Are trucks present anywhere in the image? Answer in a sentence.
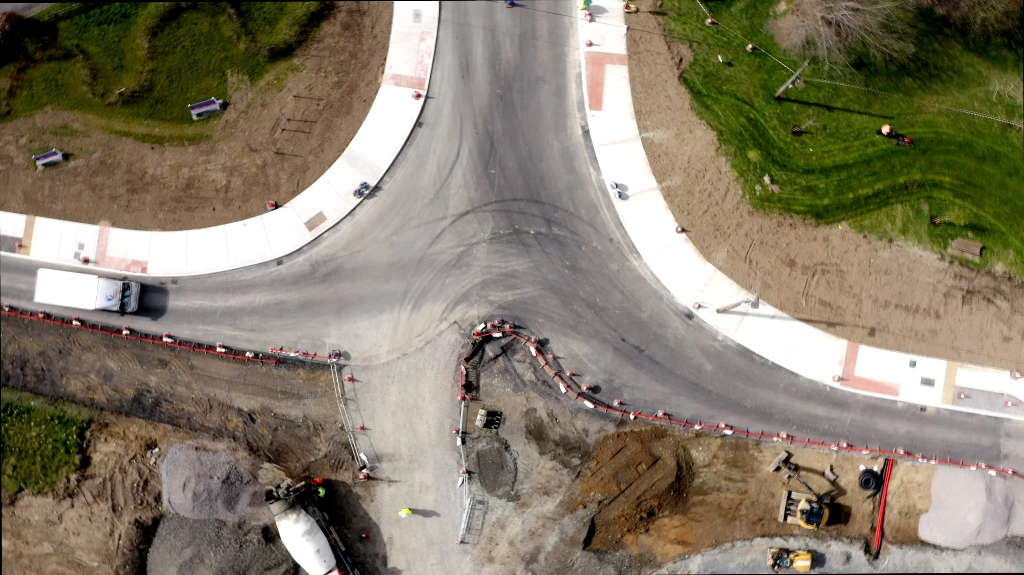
Yes, a truck can be made out from above.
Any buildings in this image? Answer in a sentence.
No, the scene contains no building.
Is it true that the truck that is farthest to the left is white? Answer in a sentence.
Yes, the truck that is farthest to the left is white.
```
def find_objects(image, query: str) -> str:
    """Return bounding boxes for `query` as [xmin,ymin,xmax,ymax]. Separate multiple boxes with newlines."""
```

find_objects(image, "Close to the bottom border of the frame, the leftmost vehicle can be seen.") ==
[262,469,353,575]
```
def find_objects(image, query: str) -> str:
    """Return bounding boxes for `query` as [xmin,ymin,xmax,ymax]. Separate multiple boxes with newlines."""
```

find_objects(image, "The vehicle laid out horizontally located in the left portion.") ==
[39,268,144,315]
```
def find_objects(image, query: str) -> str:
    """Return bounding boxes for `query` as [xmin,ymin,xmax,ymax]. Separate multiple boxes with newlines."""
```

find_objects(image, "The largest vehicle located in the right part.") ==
[768,449,832,531]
